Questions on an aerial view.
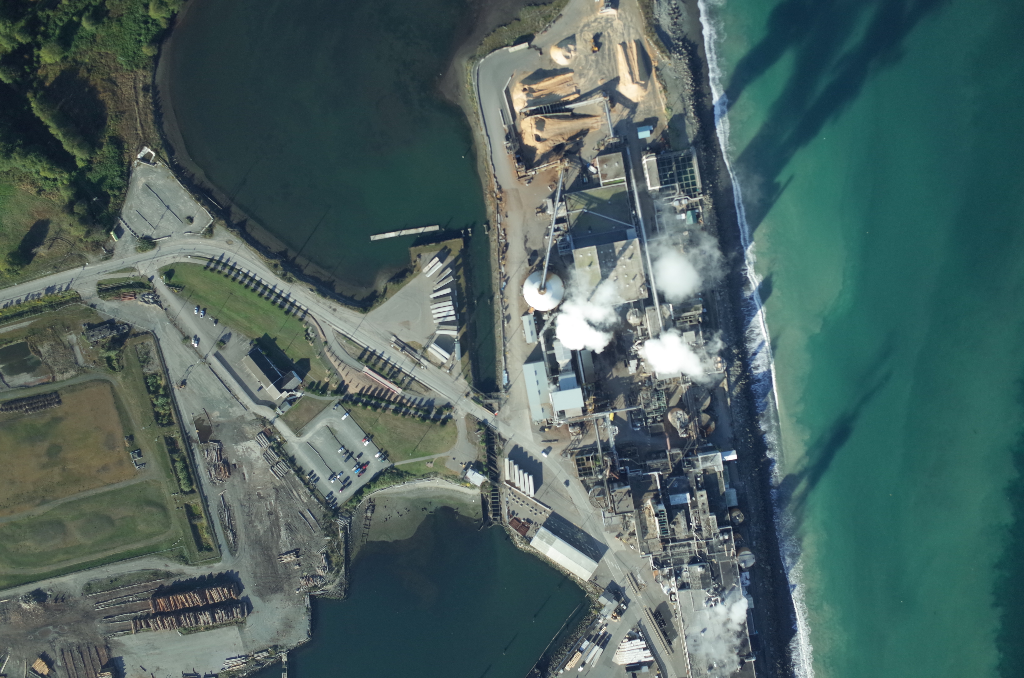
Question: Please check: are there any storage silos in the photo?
Yes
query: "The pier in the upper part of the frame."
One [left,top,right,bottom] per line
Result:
[369,225,444,243]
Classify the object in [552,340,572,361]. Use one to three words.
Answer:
building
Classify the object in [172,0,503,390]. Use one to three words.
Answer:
pond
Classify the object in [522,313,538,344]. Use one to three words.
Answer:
shed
